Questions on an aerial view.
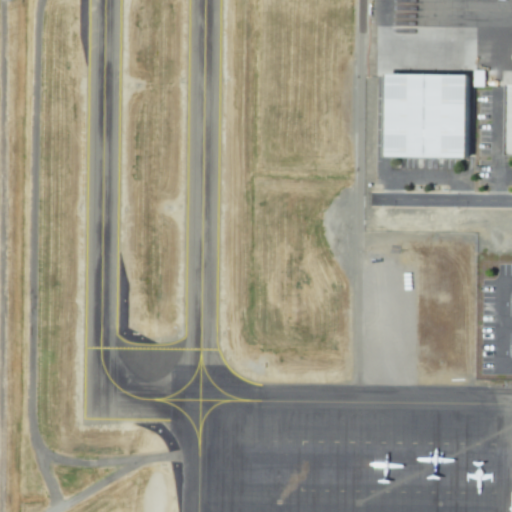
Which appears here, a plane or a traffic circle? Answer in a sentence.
There is a plane in the scene.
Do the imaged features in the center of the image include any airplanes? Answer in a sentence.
No, looking in the center of the image, there is no airplane.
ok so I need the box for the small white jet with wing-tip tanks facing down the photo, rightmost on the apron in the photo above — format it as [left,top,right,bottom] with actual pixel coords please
[468,462,492,495]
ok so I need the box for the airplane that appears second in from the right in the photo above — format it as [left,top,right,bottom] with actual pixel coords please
[417,448,455,481]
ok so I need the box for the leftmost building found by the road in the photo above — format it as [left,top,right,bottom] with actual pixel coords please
[382,72,469,156]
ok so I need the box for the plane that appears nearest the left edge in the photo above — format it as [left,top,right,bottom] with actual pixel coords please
[369,454,406,484]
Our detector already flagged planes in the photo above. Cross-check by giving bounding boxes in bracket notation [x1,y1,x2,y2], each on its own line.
[417,448,455,481]
[369,454,406,484]
[468,462,492,495]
